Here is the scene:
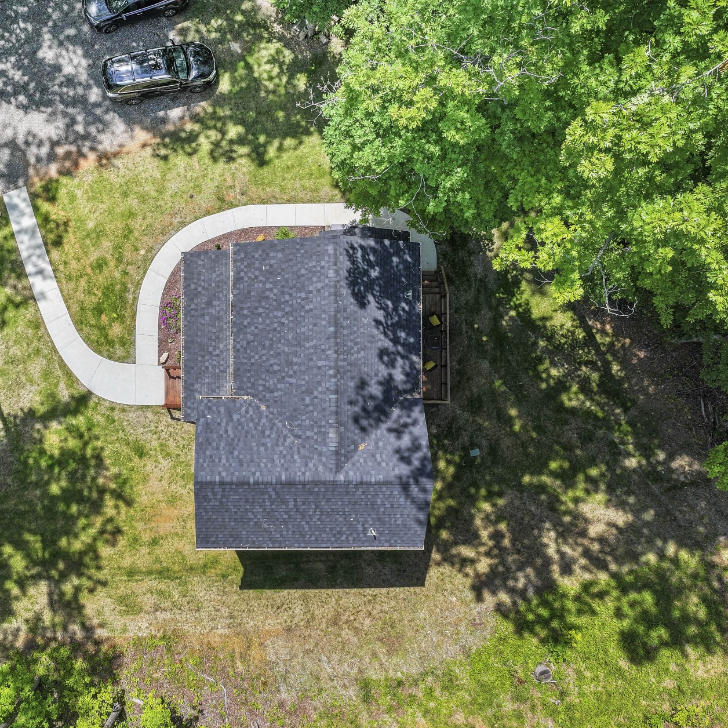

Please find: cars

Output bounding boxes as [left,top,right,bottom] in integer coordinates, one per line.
[103,39,219,107]
[80,0,192,35]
